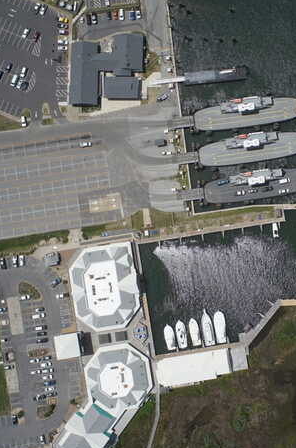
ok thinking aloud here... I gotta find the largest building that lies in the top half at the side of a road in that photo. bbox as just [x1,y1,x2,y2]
[69,33,144,106]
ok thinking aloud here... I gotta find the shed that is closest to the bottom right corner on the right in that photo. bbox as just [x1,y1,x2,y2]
[230,346,248,371]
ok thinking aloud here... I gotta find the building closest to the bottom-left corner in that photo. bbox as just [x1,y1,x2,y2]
[58,396,130,448]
